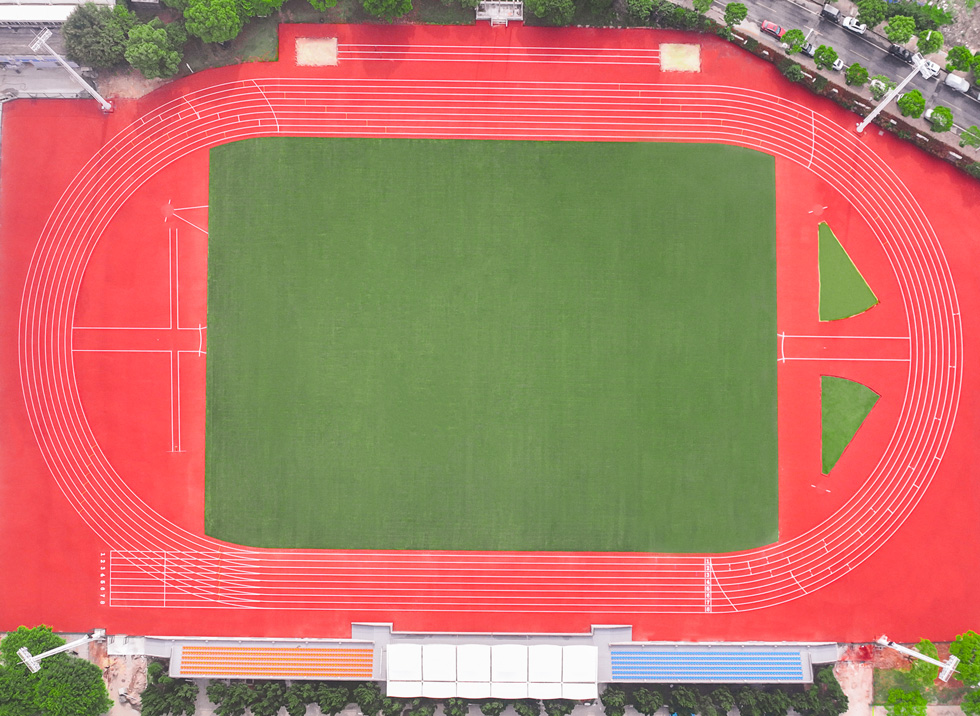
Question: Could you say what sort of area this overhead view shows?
sports ground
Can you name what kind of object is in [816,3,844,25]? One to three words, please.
vehicle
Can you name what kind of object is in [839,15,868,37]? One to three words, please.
car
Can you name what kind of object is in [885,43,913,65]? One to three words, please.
car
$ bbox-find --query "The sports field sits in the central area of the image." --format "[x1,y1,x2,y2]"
[205,136,779,553]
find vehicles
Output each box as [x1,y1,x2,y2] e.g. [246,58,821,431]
[921,59,945,79]
[839,15,868,37]
[816,3,844,25]
[893,91,904,105]
[796,40,816,60]
[885,43,913,65]
[942,71,970,95]
[822,56,844,72]
[759,19,785,41]
[919,104,937,126]
[575,699,599,709]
